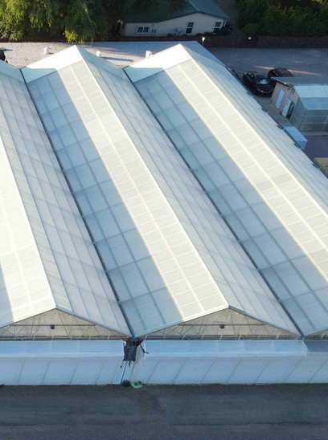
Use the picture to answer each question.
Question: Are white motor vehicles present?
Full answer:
No, no white motor vehicle is visible in the scene.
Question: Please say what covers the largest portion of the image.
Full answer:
For the most part, this view shows buildings.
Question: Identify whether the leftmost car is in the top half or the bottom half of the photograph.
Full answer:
It is in the top half that the leftmost car appears.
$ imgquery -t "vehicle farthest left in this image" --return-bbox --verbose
[245,68,271,97]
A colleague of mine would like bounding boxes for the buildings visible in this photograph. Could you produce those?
[0,45,328,386]
[101,0,239,35]
[267,78,328,131]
